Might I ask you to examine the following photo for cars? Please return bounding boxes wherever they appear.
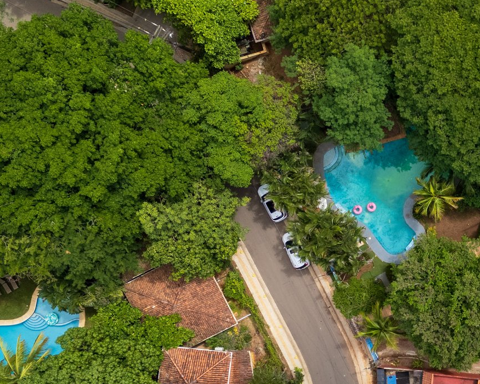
[279,232,309,271]
[255,184,285,223]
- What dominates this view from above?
trees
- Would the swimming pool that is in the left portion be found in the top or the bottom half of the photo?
bottom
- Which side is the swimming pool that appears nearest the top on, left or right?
right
